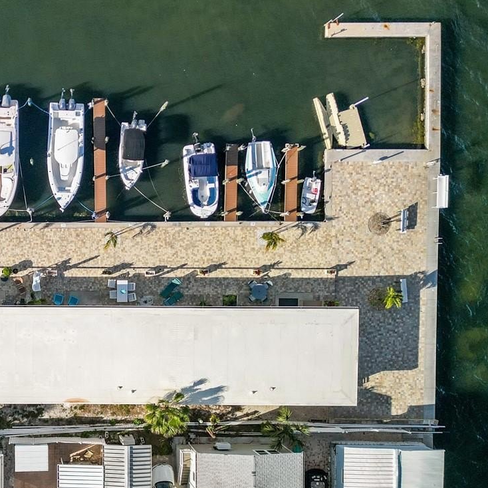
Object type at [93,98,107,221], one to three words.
pier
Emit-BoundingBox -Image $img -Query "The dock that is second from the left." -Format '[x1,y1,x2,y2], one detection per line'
[224,143,238,221]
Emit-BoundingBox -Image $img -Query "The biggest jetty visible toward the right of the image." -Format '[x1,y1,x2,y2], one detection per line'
[321,23,440,150]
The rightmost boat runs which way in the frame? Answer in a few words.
vertically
